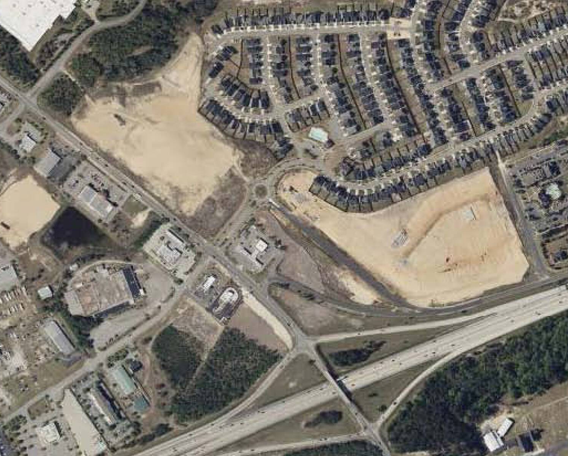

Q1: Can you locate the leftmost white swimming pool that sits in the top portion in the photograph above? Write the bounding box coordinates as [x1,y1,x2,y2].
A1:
[309,127,328,142]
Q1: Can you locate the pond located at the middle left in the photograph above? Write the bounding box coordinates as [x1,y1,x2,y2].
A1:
[41,207,108,248]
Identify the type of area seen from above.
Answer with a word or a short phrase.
residential area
